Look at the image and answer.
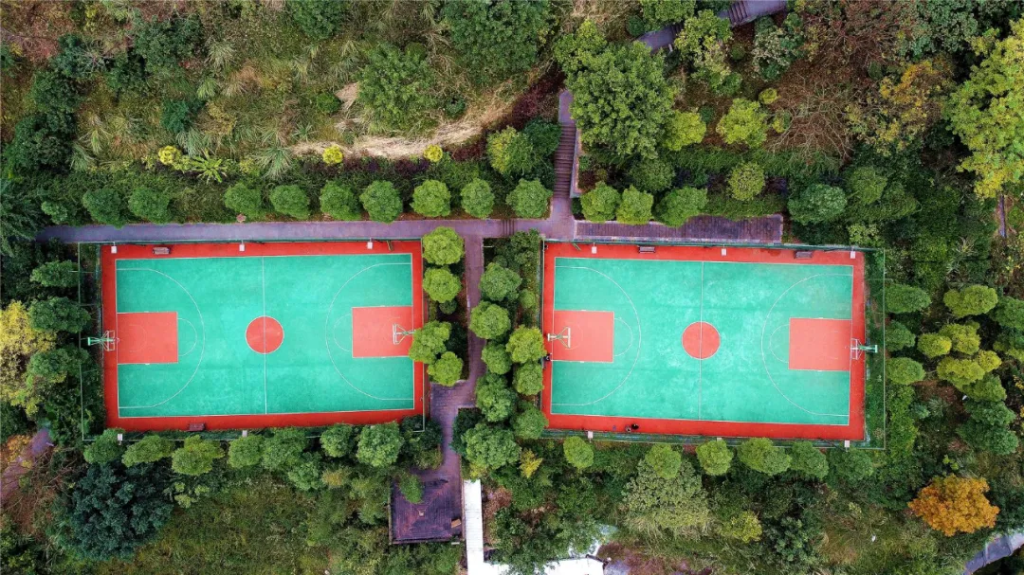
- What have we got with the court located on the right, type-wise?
basketball court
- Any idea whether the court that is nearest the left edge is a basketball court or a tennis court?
basketball court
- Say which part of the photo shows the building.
bottom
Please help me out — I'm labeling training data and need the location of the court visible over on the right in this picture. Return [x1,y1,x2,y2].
[539,241,867,441]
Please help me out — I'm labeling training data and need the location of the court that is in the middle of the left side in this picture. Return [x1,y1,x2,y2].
[100,237,431,431]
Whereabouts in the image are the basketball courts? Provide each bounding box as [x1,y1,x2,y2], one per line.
[539,241,867,441]
[100,237,431,431]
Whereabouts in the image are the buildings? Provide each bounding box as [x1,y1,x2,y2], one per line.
[393,477,451,541]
